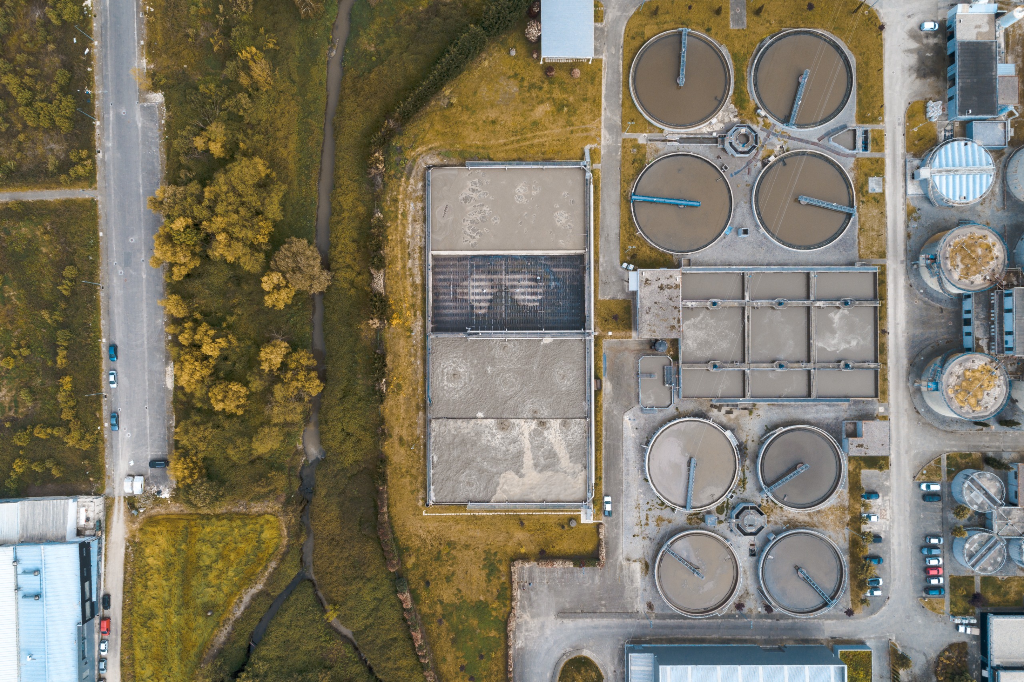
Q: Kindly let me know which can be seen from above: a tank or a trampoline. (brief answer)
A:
tank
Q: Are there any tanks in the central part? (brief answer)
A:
Yes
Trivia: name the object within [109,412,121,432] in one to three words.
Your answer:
vehicle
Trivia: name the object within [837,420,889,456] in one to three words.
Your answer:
building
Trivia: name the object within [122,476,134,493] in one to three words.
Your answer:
vehicle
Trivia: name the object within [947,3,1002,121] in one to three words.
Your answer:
building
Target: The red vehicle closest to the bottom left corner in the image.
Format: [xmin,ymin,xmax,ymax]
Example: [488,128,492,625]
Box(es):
[100,617,112,637]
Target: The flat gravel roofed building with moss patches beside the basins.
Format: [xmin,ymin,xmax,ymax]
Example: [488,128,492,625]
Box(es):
[629,268,681,338]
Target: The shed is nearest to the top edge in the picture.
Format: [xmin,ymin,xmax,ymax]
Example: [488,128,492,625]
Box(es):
[541,0,594,60]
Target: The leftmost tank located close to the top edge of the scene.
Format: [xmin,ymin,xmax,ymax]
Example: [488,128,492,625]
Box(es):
[628,28,732,133]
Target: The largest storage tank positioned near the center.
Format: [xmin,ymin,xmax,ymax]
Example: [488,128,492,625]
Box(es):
[426,160,594,510]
